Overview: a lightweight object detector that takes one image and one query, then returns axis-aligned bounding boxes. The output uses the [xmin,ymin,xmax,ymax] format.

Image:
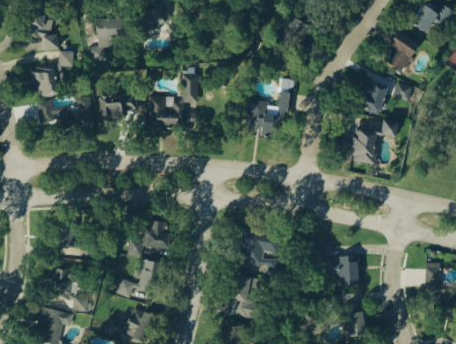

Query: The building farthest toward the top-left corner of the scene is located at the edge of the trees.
[32,16,58,50]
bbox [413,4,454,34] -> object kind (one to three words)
house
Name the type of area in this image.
residential area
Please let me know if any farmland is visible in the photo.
No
